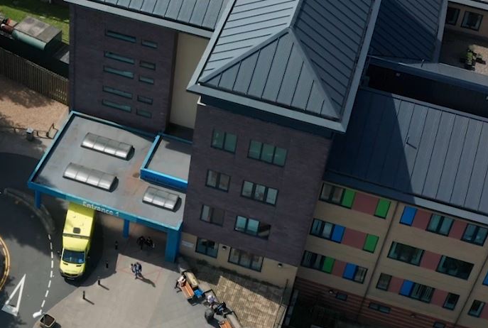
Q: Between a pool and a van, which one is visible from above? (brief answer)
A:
van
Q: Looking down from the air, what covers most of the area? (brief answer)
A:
buildings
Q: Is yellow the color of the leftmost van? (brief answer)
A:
Yes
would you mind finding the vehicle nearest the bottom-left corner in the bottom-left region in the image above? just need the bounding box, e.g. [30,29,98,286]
[59,205,98,277]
